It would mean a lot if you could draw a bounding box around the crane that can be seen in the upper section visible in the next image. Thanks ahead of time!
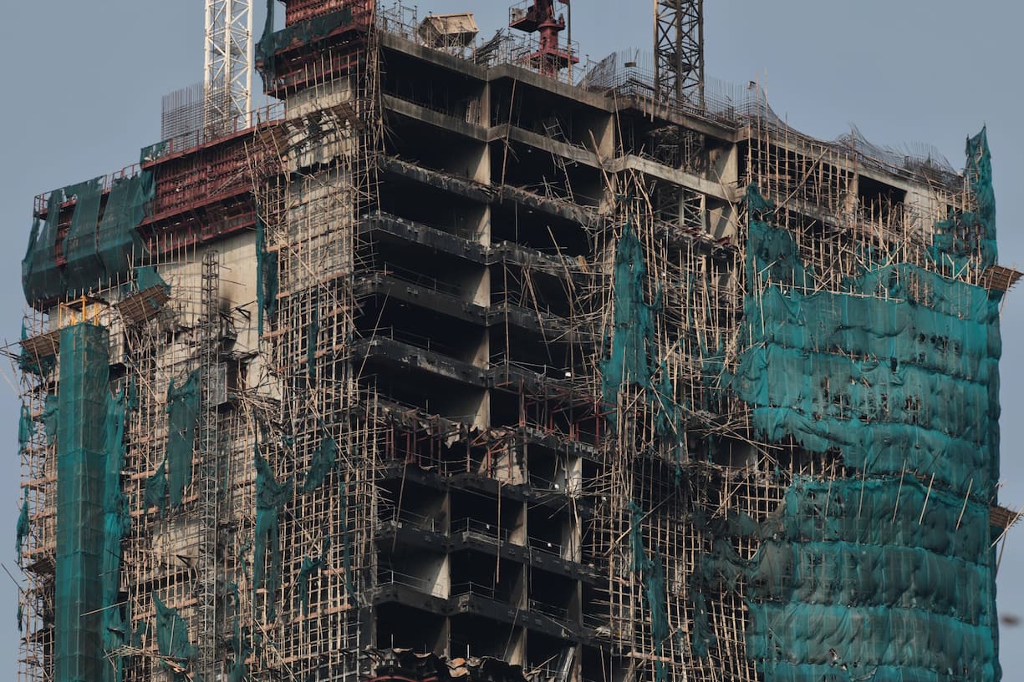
[510,0,580,81]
